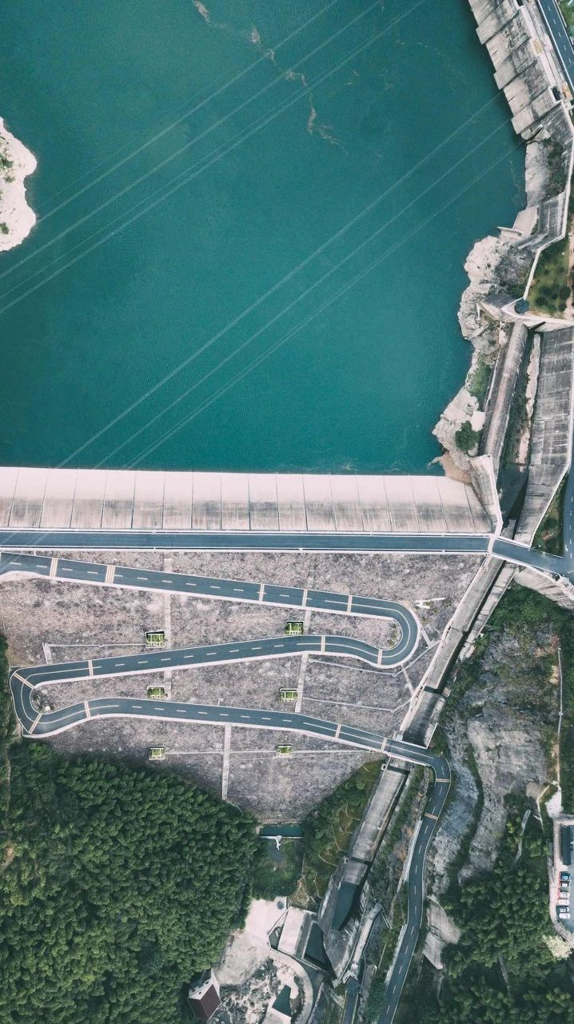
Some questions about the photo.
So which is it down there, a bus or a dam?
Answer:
dam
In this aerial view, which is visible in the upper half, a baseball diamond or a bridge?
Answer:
bridge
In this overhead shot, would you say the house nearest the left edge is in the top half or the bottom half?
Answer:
bottom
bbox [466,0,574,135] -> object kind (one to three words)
dam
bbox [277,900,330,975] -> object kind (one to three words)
building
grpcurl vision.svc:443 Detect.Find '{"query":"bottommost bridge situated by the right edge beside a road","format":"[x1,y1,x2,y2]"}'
[487,536,574,602]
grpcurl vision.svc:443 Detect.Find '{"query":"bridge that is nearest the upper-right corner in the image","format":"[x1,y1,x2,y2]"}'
[478,293,574,333]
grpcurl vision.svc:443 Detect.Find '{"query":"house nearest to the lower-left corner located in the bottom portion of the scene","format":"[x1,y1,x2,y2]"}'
[188,974,223,1020]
